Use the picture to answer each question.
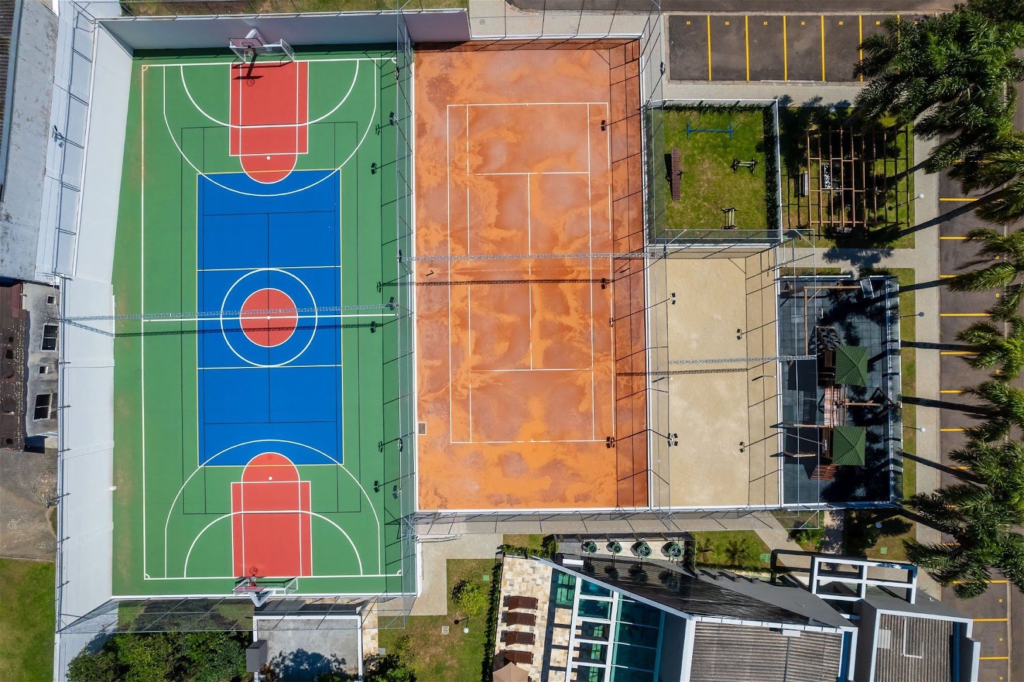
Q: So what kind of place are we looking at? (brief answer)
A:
sports ground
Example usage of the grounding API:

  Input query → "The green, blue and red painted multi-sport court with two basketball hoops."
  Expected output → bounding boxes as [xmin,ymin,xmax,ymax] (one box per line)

[112,41,416,594]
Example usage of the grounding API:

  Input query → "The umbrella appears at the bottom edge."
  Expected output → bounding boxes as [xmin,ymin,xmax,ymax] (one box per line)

[491,661,531,682]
